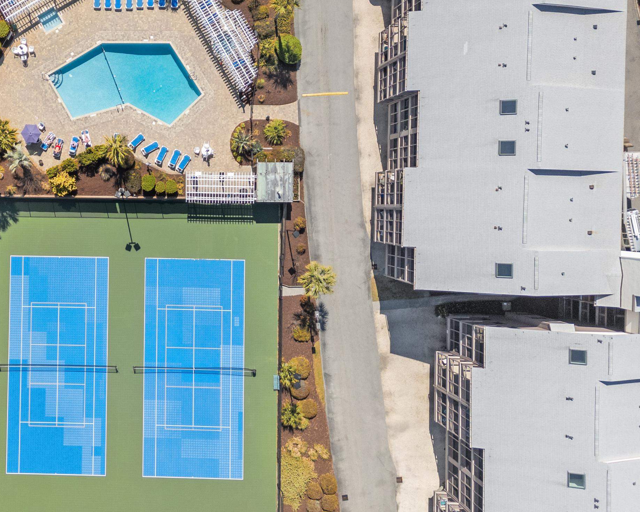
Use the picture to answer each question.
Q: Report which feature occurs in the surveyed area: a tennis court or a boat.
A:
tennis court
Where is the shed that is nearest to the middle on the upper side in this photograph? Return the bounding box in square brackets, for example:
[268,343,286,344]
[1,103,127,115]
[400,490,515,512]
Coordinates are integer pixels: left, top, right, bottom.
[253,159,294,201]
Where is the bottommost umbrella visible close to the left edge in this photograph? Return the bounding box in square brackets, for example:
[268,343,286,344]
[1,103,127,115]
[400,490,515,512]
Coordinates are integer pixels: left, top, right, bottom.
[21,125,41,143]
